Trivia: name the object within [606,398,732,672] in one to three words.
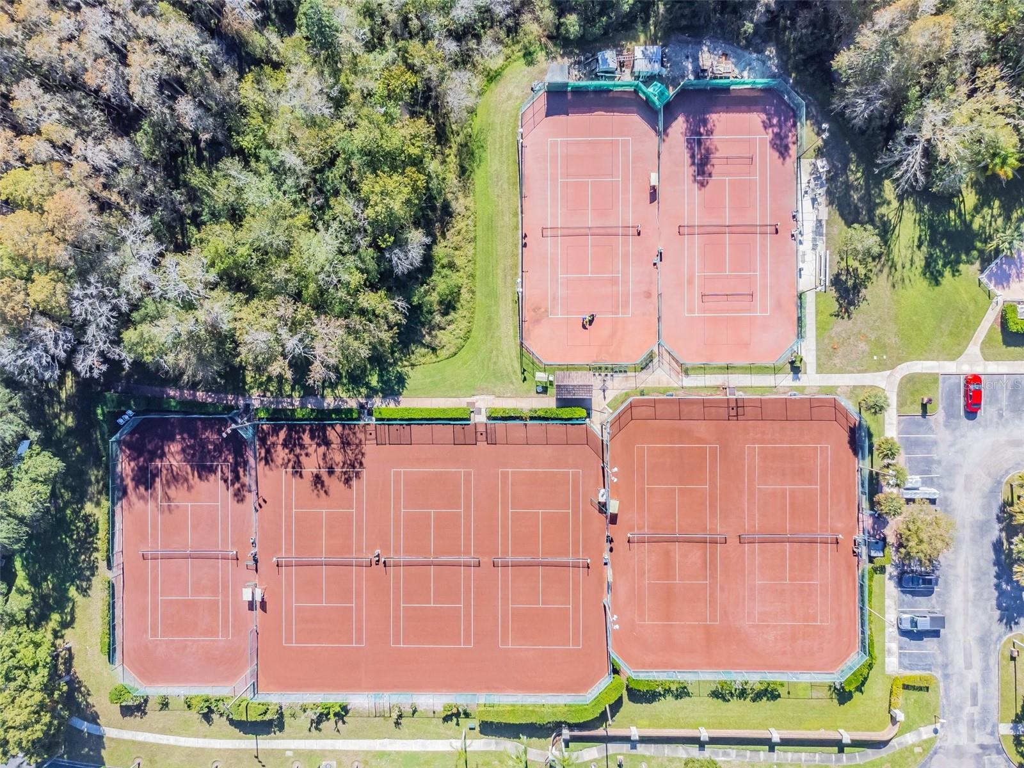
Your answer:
tennis court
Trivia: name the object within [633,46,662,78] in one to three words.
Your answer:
shed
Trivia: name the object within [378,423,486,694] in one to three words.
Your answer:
tennis court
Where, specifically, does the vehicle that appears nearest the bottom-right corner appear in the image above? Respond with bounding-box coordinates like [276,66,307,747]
[897,614,946,633]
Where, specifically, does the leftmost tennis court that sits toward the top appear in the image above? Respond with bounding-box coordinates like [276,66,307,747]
[522,90,660,364]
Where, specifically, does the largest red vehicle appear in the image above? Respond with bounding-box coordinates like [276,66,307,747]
[964,374,985,411]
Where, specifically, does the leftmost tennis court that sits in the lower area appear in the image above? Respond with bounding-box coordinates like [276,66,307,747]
[122,419,257,686]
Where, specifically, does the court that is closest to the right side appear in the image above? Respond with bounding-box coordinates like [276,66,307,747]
[732,398,860,672]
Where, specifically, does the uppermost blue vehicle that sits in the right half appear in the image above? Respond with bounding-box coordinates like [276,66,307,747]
[901,572,942,590]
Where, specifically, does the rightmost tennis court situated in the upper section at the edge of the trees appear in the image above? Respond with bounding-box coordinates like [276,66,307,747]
[660,88,799,364]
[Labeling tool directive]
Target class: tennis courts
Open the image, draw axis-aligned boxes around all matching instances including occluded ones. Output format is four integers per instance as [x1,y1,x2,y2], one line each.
[522,90,660,364]
[732,398,860,672]
[258,423,378,694]
[122,419,257,686]
[660,88,799,364]
[486,423,609,694]
[378,423,486,694]
[606,398,732,672]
